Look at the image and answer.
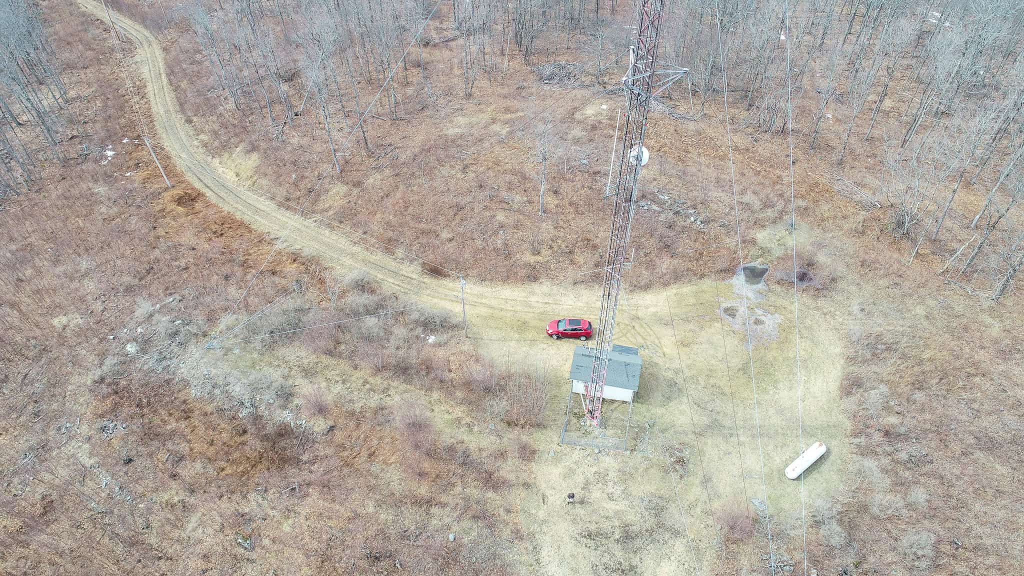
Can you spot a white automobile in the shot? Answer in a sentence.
No, this view has no white automobile in it.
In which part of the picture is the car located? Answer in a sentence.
You can find the car in the center area of the picture.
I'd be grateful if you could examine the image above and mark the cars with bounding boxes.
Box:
[546,317,594,342]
